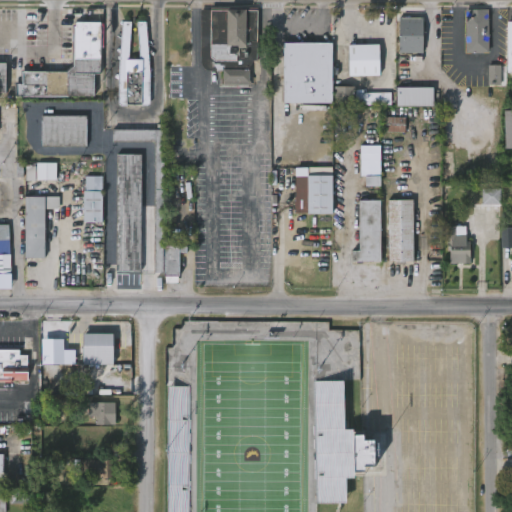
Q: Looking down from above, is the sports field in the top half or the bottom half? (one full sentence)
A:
You can find the sports field in the bottom half.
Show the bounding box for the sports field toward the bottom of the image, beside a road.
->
[197,341,308,512]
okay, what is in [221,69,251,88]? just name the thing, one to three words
building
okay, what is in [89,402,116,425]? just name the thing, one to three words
house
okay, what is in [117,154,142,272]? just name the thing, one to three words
building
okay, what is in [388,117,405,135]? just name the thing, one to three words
shed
